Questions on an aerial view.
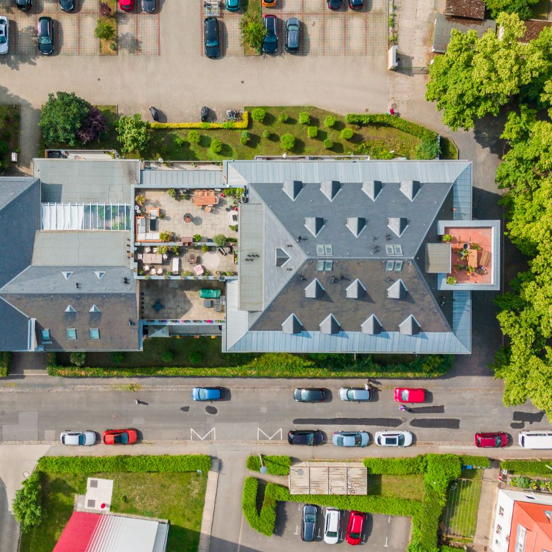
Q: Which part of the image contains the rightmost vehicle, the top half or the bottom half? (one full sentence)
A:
Seen from above, the rightmost vehicle lies in the bottom half of the view.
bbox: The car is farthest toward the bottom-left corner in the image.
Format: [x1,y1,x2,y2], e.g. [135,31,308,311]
[61,429,96,447]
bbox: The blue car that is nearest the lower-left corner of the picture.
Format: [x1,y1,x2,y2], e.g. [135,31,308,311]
[192,384,224,404]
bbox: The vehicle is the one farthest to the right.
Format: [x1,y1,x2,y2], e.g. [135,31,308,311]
[518,430,552,449]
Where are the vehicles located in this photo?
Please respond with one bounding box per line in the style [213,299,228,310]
[141,0,157,13]
[323,508,343,543]
[225,0,241,12]
[394,386,425,405]
[0,15,11,55]
[518,430,552,449]
[15,0,33,11]
[202,15,223,58]
[348,0,364,11]
[293,385,326,405]
[332,429,369,448]
[119,0,135,11]
[339,384,372,404]
[473,431,508,449]
[103,427,137,446]
[59,0,75,13]
[347,512,367,544]
[284,17,302,53]
[36,16,55,56]
[326,0,343,10]
[261,14,280,55]
[61,429,96,447]
[374,429,412,448]
[261,0,276,8]
[288,429,324,447]
[192,384,224,404]
[300,505,320,540]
